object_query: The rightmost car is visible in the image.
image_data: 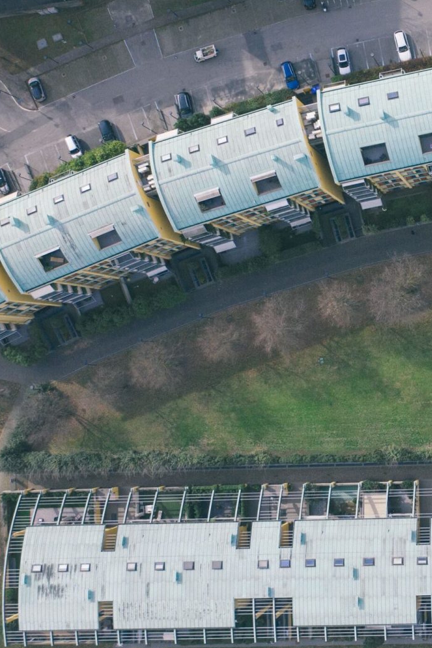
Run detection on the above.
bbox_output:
[395,30,412,57]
